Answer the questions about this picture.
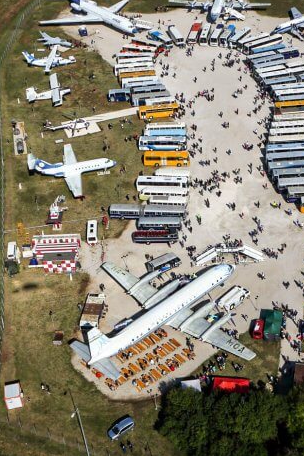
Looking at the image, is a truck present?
Yes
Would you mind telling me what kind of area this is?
airport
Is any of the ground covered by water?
No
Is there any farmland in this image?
No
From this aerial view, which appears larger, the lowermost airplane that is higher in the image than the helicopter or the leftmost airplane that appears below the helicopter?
the leftmost airplane that appears below the helicopter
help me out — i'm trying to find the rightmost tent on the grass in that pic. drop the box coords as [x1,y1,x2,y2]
[213,378,248,400]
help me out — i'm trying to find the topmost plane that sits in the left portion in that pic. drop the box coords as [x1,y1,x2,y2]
[38,0,134,35]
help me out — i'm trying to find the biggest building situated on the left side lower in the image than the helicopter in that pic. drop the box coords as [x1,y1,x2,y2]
[36,237,83,268]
